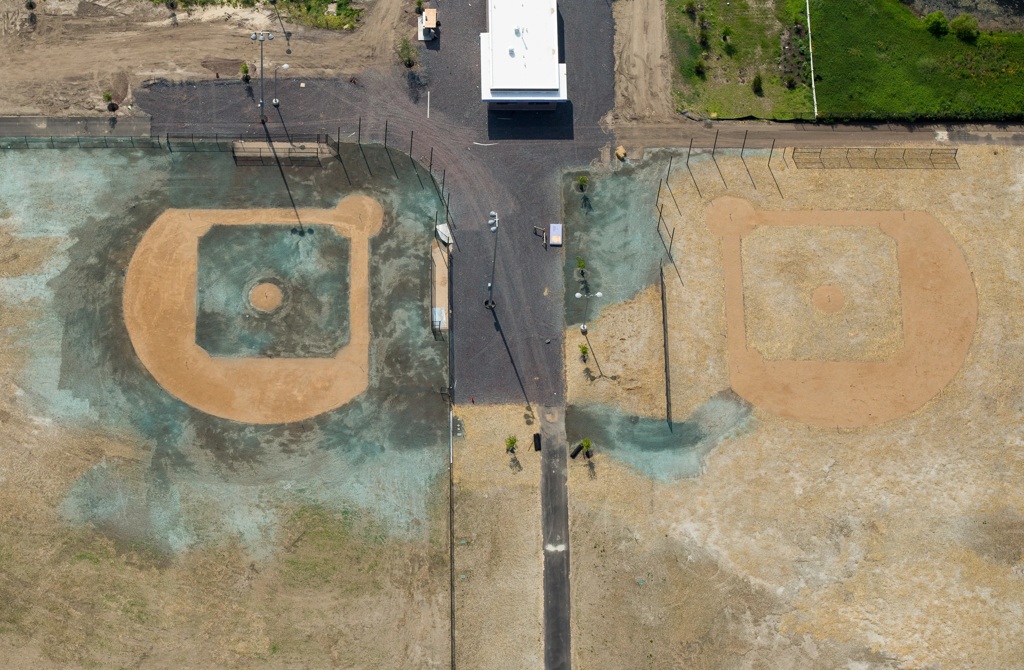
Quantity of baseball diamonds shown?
2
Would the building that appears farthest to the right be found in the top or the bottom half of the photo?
top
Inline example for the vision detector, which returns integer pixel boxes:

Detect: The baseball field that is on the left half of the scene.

[124,195,382,424]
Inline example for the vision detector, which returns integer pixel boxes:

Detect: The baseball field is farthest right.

[705,196,977,428]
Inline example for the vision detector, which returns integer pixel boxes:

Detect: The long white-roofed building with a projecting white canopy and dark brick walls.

[479,0,567,110]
